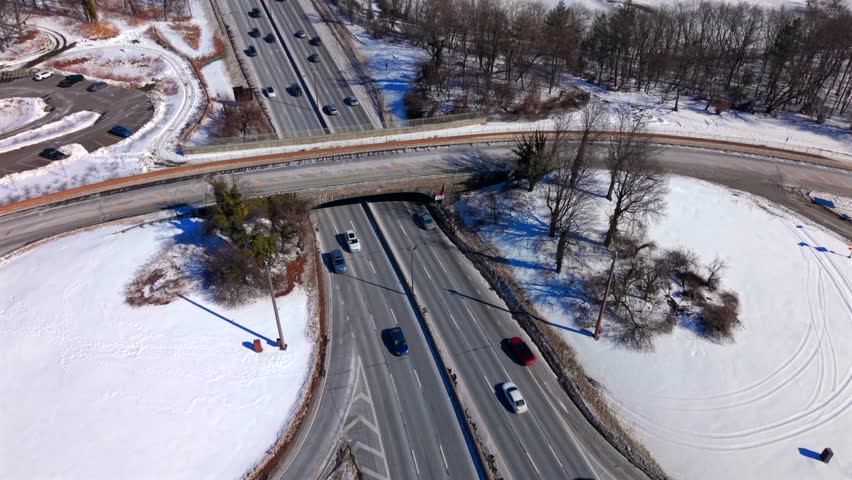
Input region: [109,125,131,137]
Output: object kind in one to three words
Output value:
vehicle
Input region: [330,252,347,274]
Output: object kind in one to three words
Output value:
car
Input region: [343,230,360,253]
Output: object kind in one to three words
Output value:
car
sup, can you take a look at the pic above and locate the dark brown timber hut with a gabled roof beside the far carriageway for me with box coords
[230,83,254,104]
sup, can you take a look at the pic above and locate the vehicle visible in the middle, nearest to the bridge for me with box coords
[418,213,436,231]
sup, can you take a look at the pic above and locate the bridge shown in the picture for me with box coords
[181,116,491,213]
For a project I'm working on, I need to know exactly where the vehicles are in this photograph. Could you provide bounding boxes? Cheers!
[38,148,66,160]
[297,32,306,38]
[311,37,321,46]
[57,75,83,87]
[109,125,131,137]
[311,55,321,62]
[347,97,359,107]
[32,71,55,81]
[252,27,260,36]
[508,338,536,369]
[386,326,409,359]
[326,105,339,116]
[500,382,530,418]
[343,230,360,253]
[330,252,347,274]
[86,82,107,92]
[267,32,276,42]
[265,87,276,97]
[291,82,302,96]
[418,213,436,231]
